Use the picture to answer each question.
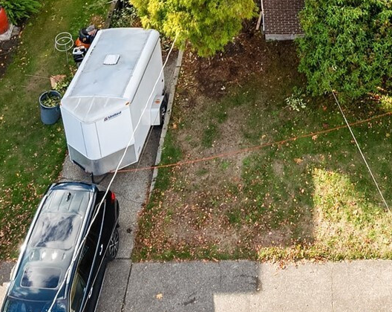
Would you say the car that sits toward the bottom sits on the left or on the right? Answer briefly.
left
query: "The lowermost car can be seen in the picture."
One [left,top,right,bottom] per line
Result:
[2,186,117,312]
